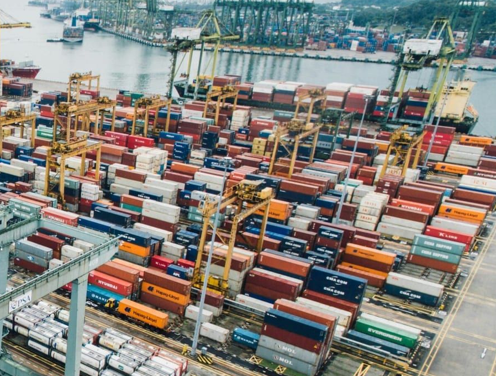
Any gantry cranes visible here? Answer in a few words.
Yes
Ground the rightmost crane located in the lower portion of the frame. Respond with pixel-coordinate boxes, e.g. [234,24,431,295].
[192,190,280,301]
